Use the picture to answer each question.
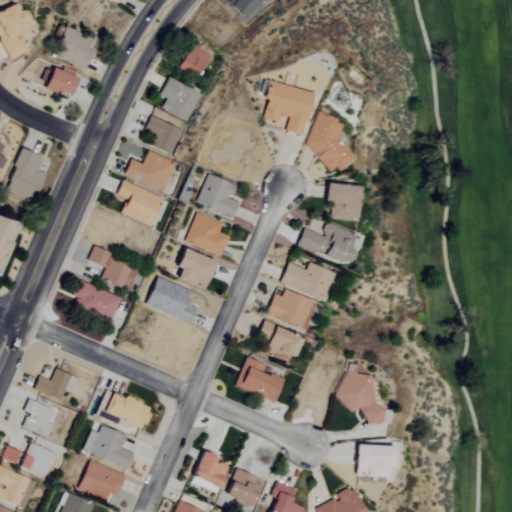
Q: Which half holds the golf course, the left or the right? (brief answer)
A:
right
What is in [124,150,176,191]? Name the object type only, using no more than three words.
house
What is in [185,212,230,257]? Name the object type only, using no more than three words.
house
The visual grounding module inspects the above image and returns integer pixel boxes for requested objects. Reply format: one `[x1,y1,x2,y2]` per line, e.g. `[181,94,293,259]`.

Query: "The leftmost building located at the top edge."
[0,2,38,61]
